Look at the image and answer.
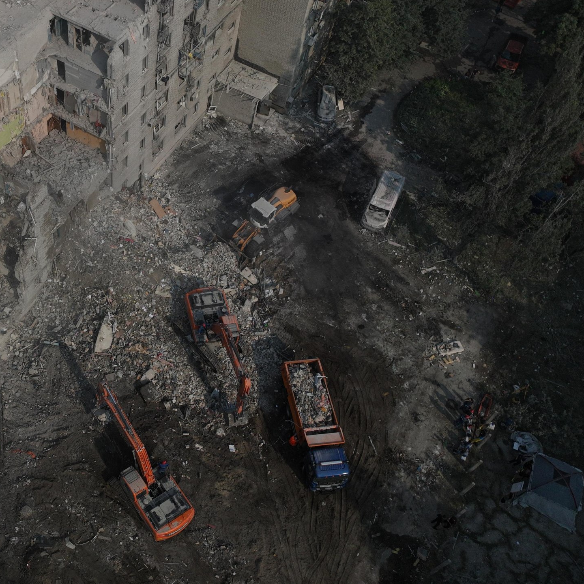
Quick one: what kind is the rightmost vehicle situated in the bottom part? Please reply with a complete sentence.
In the photo, the rightmost vehicle situated in the bottom part shows up as a truck.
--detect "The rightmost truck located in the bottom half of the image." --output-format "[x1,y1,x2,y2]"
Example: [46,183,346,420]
[274,354,355,497]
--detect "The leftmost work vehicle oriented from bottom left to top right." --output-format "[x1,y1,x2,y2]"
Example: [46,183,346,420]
[215,190,301,265]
